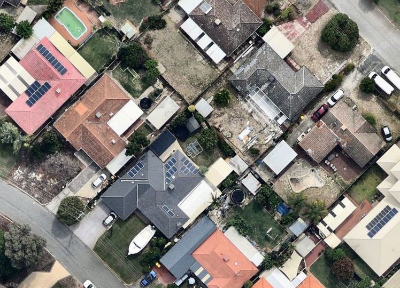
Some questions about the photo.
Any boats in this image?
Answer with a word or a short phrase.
Yes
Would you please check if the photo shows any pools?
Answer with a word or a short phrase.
Yes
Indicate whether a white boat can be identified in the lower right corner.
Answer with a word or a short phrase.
No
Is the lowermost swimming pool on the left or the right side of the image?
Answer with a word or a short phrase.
right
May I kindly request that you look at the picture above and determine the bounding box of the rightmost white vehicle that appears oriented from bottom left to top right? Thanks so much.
[328,88,344,106]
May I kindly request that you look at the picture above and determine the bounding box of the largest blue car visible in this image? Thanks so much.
[141,269,156,287]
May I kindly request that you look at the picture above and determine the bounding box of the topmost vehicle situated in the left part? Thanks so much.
[92,171,107,189]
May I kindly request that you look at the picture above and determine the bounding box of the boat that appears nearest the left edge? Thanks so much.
[130,223,156,255]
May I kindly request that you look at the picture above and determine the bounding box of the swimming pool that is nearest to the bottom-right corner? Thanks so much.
[290,167,326,193]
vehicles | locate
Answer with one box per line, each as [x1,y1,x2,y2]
[383,64,400,90]
[313,103,328,121]
[102,209,117,226]
[92,171,107,189]
[141,269,156,287]
[371,70,394,96]
[328,88,344,106]
[382,124,392,142]
[84,279,97,288]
